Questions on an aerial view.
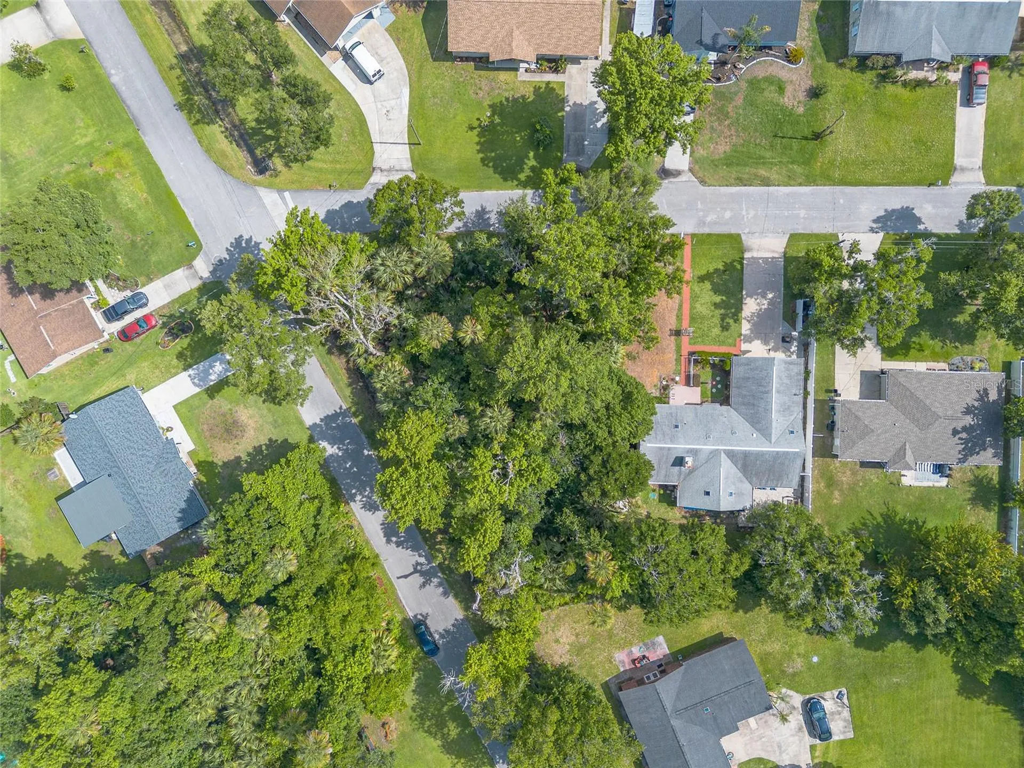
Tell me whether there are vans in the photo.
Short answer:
Yes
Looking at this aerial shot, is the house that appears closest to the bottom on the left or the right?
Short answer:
right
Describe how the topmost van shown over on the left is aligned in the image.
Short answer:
on a diagonal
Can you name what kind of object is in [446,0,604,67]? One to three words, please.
house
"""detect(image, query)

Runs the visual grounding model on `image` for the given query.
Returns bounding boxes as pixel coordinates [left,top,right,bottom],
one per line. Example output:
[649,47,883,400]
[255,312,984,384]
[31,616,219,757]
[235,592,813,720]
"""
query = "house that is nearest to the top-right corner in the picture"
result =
[848,0,1020,72]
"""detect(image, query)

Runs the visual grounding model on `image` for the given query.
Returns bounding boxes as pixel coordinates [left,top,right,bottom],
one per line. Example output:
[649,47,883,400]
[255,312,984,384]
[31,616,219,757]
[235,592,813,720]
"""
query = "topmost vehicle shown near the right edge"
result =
[964,61,992,108]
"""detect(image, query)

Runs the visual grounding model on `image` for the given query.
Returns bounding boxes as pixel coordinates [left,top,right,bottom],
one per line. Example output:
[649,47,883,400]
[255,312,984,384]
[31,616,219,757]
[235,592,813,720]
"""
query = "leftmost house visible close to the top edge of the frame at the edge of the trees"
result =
[265,0,385,64]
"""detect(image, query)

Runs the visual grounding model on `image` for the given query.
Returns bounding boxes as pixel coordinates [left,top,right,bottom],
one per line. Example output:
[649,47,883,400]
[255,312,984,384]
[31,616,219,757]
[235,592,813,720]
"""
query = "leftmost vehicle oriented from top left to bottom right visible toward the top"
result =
[344,40,387,90]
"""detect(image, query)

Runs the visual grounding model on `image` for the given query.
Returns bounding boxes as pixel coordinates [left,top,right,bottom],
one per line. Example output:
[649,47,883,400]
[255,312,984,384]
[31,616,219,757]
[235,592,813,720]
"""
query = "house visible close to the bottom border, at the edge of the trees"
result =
[619,636,772,768]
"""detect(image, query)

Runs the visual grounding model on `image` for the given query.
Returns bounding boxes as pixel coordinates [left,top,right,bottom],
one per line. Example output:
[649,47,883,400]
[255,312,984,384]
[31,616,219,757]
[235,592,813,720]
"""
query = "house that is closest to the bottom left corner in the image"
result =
[58,385,212,558]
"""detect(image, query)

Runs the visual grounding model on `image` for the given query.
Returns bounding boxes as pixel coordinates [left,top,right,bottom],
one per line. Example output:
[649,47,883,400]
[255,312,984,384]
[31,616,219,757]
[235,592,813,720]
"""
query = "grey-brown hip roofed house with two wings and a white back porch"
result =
[831,370,1005,473]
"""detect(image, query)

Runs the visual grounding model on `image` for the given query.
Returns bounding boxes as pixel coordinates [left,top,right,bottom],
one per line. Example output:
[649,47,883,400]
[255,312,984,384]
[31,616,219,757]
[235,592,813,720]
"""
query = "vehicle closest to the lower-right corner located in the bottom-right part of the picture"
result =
[802,694,835,744]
